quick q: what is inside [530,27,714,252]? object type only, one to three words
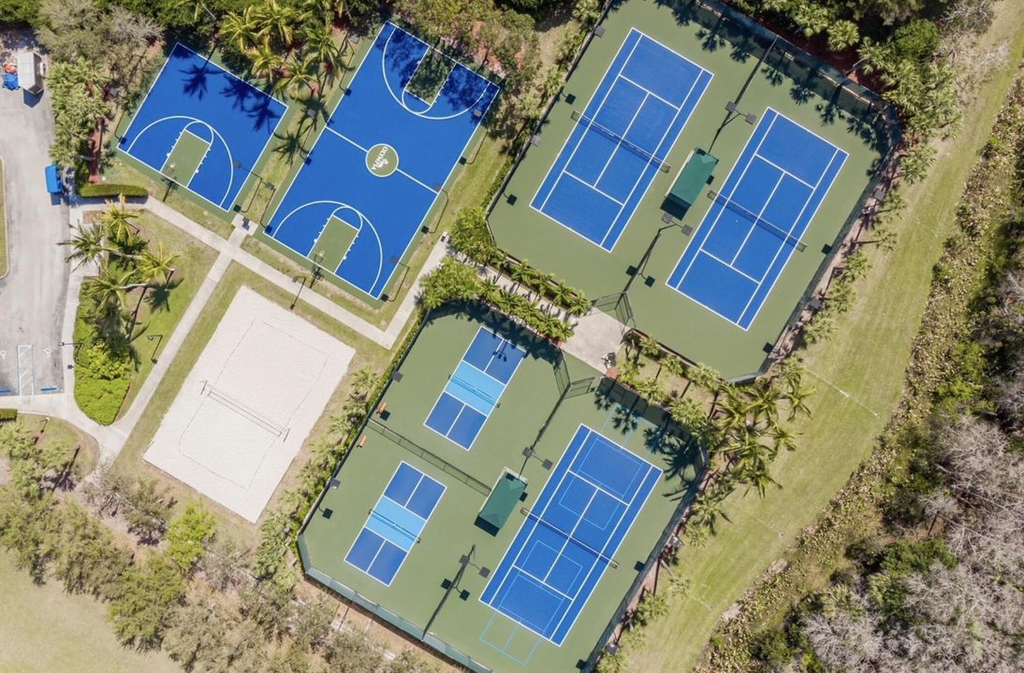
tennis court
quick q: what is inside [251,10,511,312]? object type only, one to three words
basketball court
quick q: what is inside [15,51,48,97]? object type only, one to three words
trailer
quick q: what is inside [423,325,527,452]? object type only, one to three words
sports court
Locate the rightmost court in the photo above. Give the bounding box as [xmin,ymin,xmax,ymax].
[665,106,849,331]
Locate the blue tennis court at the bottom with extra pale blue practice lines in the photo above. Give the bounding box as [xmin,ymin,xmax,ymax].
[479,408,663,663]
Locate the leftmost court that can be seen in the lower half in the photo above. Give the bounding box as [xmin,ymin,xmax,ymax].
[143,286,356,523]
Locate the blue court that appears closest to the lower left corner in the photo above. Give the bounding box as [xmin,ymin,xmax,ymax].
[344,461,447,587]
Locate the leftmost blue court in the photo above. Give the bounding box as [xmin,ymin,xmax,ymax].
[109,36,300,224]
